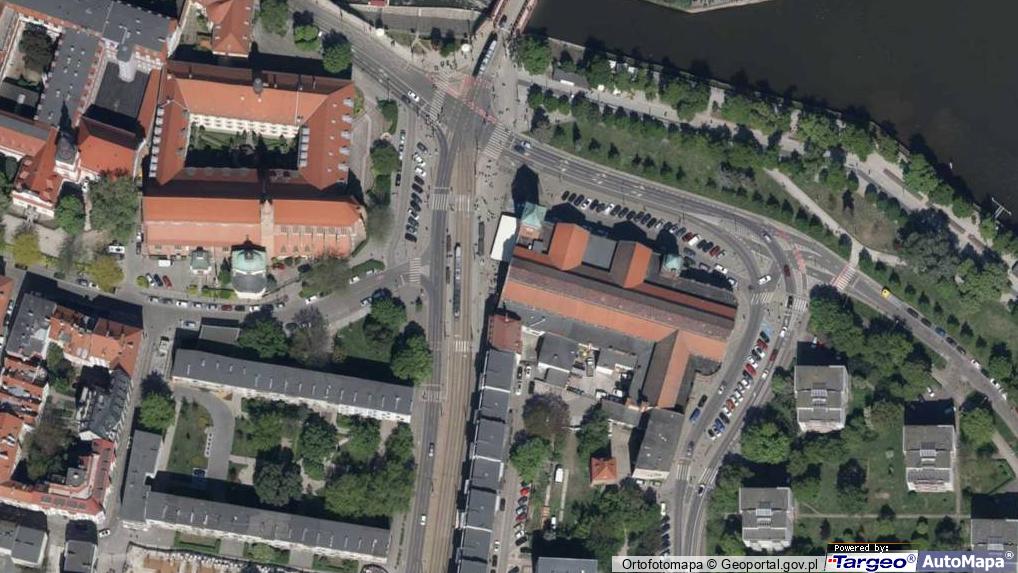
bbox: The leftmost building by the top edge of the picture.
[0,0,191,127]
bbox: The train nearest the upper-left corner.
[478,40,496,78]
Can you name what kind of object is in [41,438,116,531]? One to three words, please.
house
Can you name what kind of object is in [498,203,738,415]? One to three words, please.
building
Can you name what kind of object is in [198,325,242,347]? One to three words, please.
building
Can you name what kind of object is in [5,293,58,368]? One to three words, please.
house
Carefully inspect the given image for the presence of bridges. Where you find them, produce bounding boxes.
[491,0,538,41]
